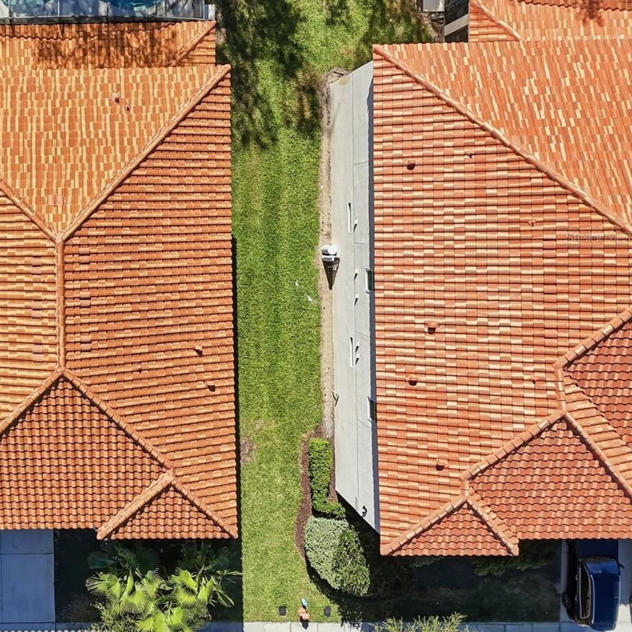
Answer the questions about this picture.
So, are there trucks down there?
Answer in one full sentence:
No, I can't see a single truck in this photo.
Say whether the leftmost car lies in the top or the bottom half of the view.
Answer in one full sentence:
You can find the leftmost car in the bottom half.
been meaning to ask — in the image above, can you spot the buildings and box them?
[329,0,632,559]
[0,17,243,546]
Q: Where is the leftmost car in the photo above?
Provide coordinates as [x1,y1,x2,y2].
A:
[564,540,629,631]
